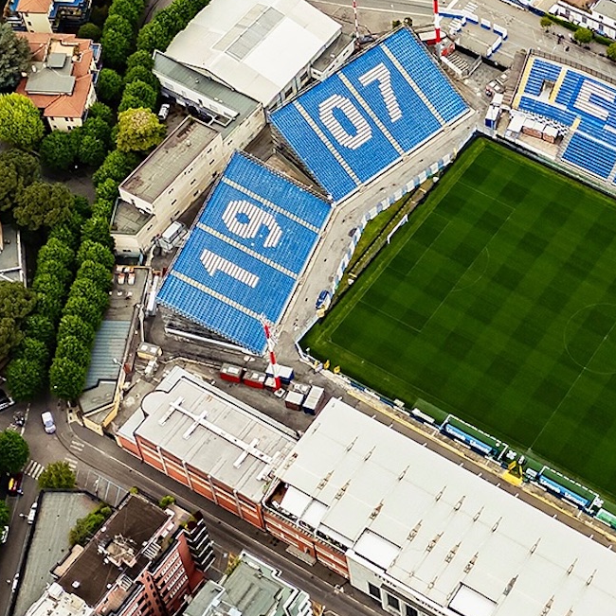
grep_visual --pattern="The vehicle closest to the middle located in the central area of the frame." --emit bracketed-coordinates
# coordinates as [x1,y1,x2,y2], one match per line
[315,286,330,306]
